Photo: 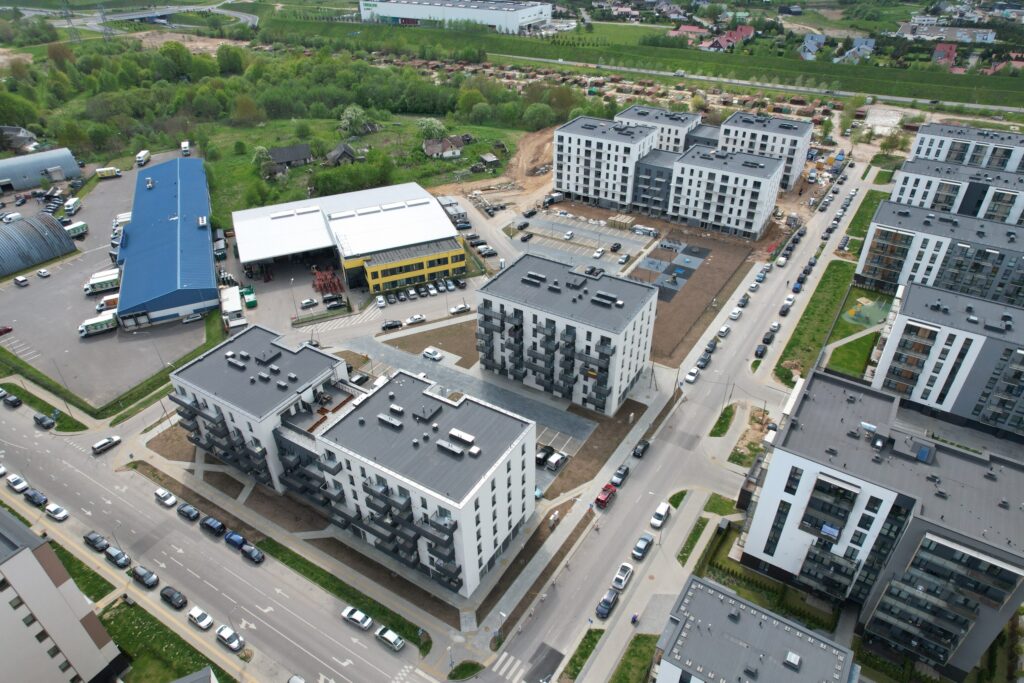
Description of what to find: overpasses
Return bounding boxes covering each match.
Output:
[95,3,237,28]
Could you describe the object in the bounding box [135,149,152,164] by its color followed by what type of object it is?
white vehicle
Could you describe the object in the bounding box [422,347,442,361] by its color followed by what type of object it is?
white car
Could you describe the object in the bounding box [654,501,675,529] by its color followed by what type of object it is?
white vehicle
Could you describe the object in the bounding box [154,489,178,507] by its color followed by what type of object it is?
white car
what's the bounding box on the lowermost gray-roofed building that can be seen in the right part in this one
[640,576,861,683]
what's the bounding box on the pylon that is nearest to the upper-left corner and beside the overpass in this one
[56,0,82,40]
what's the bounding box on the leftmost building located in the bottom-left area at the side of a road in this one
[0,470,124,683]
